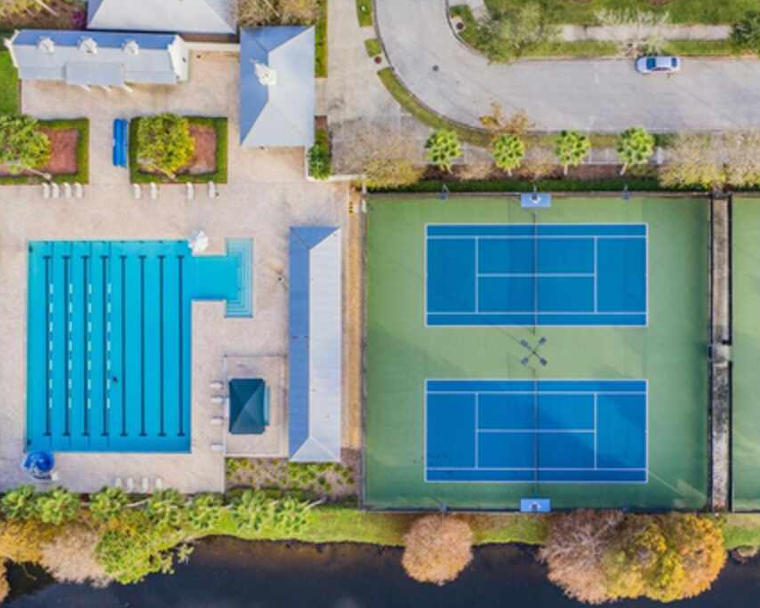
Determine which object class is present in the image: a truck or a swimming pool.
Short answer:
swimming pool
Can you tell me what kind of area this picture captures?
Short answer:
sports ground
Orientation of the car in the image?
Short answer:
from left to right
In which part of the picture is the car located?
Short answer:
top right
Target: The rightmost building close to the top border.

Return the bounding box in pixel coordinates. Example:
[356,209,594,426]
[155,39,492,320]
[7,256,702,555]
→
[240,25,316,150]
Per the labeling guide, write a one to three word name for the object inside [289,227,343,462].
building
